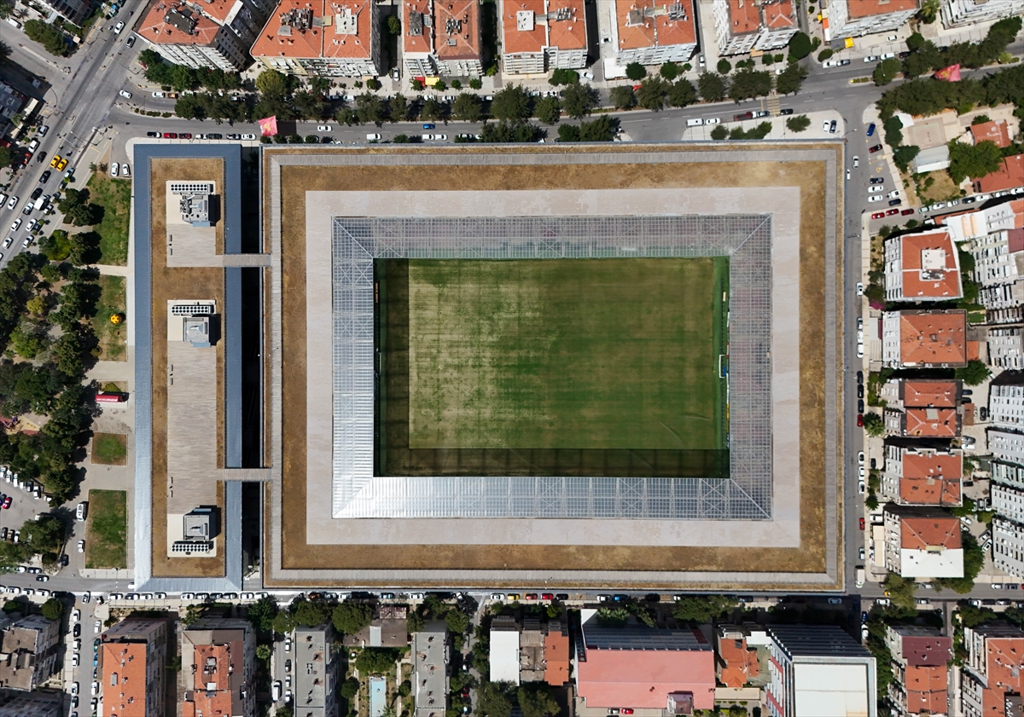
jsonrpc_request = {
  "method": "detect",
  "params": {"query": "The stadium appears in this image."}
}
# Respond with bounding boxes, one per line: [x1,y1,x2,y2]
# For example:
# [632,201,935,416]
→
[261,144,845,592]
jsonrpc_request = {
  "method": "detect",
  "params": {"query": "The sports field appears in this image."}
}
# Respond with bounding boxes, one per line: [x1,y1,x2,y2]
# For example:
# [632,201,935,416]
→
[375,259,729,476]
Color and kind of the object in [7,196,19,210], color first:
white vehicle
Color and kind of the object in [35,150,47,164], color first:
black vehicle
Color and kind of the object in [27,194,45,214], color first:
white vehicle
